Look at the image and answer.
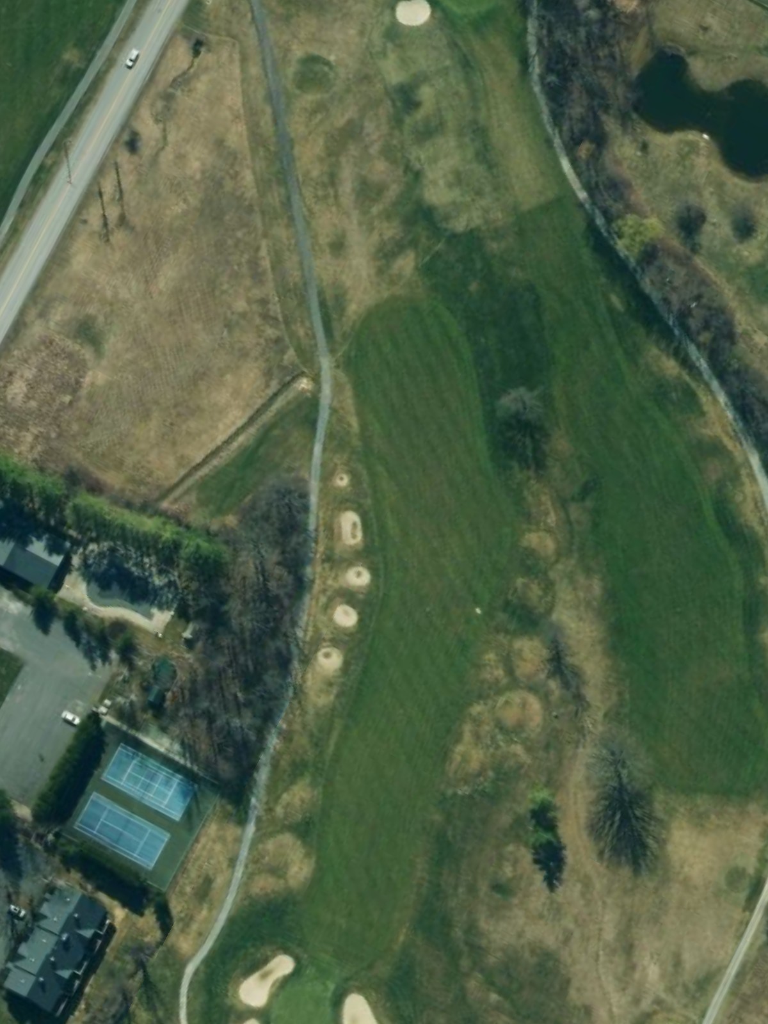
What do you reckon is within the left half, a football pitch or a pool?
pool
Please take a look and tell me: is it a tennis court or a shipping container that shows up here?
tennis court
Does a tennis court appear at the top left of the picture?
No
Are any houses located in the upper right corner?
No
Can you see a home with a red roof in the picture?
No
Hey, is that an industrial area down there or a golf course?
golf course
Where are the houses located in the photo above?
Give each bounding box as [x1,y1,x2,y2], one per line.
[0,513,69,586]
[1,882,108,1017]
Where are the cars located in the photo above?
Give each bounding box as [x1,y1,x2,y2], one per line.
[61,711,79,725]
[9,904,26,918]
[126,49,139,68]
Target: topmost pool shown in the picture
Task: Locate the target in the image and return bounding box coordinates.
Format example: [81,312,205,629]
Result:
[63,566,174,638]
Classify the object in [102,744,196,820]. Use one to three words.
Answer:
tennis court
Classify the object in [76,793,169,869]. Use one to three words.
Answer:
tennis court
